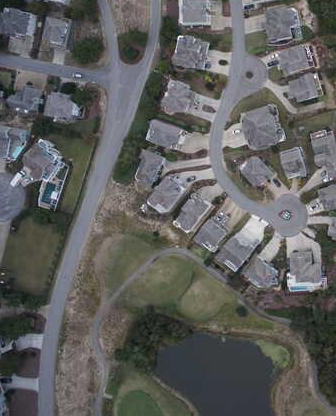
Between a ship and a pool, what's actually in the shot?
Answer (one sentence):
Visible in the photo is a pool.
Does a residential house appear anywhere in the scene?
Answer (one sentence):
Yes, a residential house is visible in the scene.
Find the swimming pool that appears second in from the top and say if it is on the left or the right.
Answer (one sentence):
The swimming pool that appears second in from the top appears in the left half of the scene.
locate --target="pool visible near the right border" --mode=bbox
[288,279,320,292]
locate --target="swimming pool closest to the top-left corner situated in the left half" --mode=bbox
[10,139,27,159]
